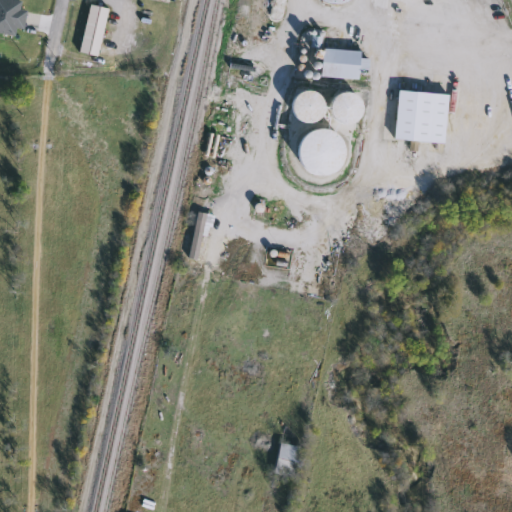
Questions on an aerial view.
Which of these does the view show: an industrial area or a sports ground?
industrial area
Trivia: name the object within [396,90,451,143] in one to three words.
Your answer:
building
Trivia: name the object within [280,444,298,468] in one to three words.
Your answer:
barn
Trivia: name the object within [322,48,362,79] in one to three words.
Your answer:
shed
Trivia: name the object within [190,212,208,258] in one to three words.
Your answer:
shed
